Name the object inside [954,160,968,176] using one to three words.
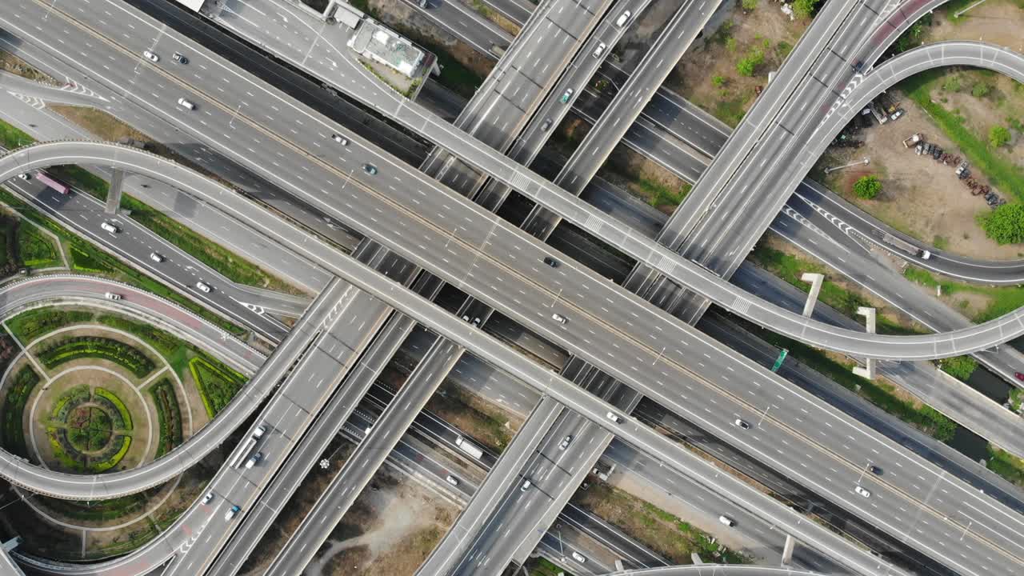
vehicle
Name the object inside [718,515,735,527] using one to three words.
vehicle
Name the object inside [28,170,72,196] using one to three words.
truck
